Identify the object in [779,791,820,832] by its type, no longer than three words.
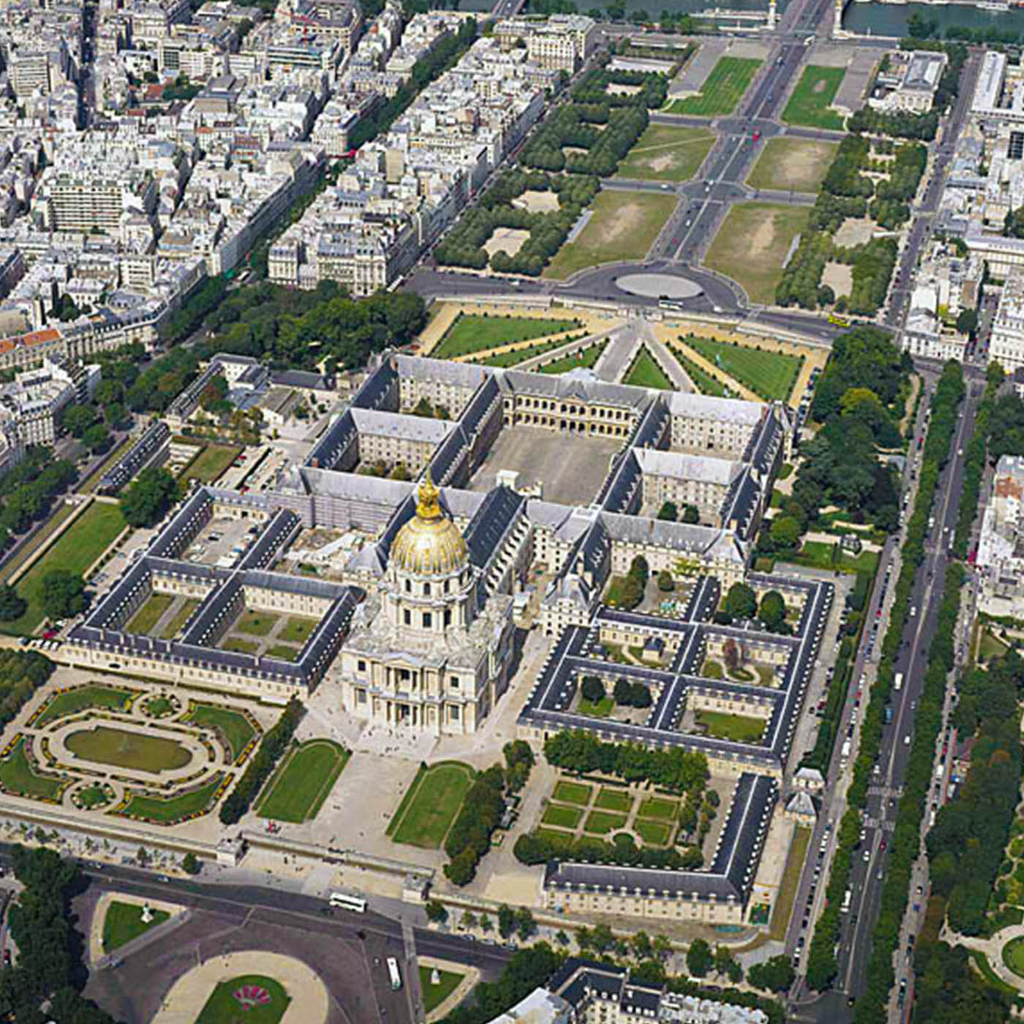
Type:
building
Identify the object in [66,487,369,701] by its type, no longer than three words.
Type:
building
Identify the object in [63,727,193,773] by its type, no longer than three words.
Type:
pond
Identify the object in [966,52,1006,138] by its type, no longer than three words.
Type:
house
